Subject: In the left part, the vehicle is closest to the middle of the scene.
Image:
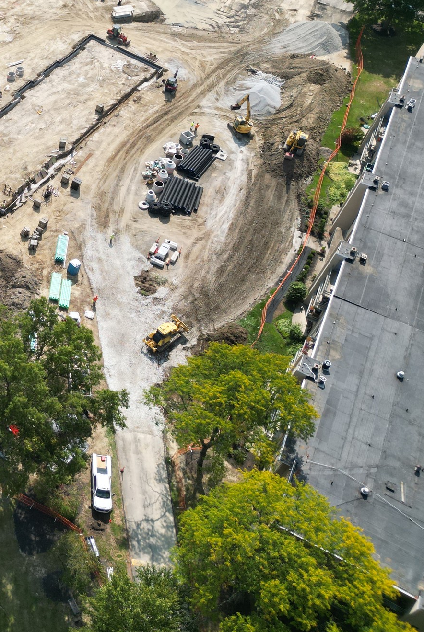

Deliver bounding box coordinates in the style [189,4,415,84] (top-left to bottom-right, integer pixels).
[143,314,189,350]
